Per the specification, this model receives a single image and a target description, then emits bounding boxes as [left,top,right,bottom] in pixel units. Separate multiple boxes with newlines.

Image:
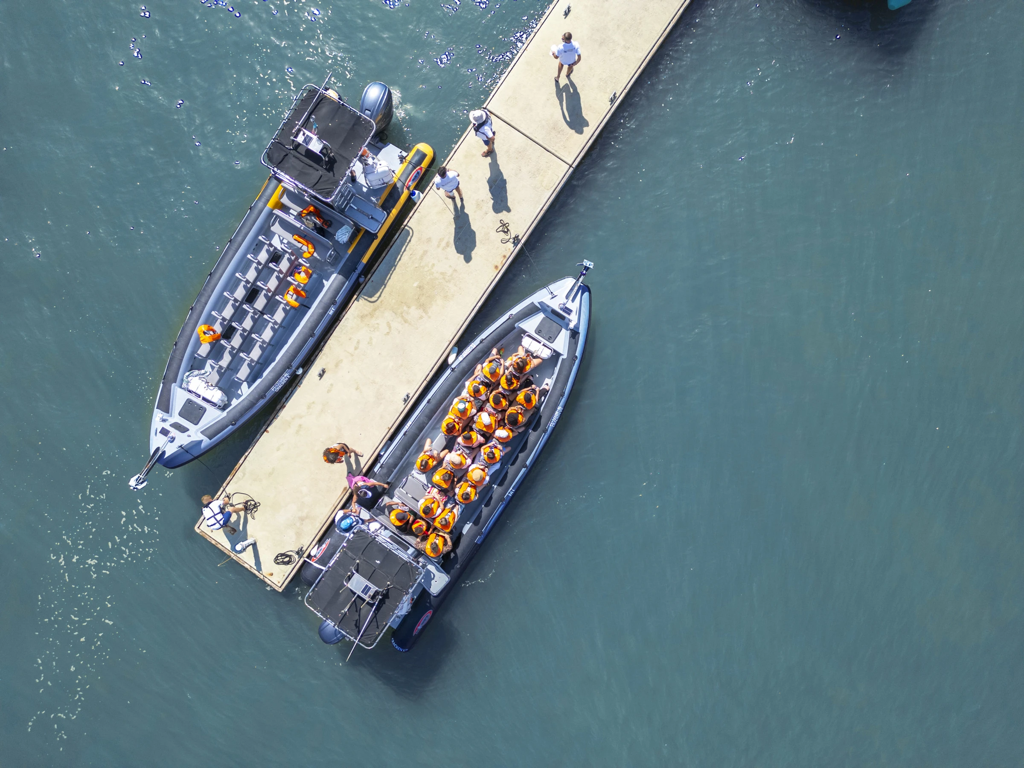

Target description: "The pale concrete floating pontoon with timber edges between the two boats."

[193,107,572,590]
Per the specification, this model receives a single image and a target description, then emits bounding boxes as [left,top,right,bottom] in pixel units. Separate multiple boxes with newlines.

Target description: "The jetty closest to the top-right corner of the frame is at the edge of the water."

[483,0,689,171]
